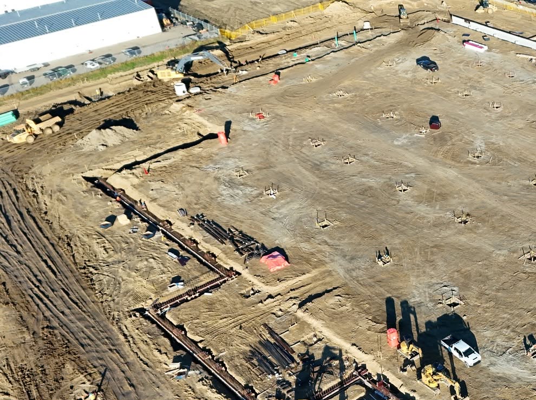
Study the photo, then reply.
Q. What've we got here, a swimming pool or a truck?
truck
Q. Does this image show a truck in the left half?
Yes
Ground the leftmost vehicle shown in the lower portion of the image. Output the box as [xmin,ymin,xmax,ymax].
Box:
[400,340,420,366]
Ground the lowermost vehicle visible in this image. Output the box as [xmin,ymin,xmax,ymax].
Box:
[420,362,461,400]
